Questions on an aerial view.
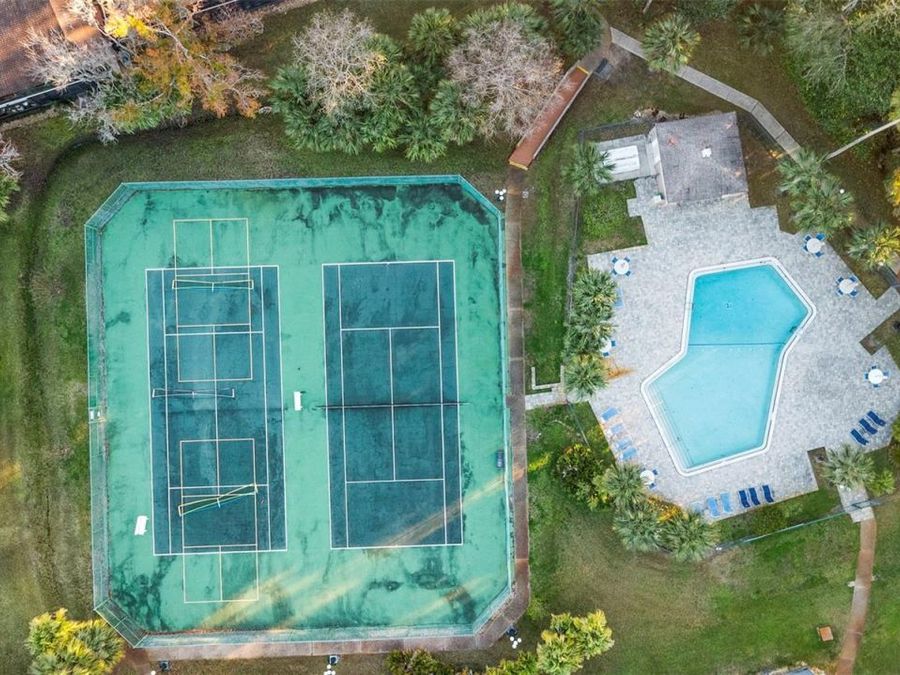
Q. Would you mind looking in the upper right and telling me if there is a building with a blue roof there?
No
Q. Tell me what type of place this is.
sports ground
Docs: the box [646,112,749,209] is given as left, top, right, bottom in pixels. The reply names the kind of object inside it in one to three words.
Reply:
building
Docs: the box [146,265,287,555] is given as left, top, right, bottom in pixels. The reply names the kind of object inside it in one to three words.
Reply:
tennis court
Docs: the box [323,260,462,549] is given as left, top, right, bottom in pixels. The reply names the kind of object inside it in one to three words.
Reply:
tennis court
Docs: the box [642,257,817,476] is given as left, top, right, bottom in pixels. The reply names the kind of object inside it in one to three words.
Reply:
swimming pool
